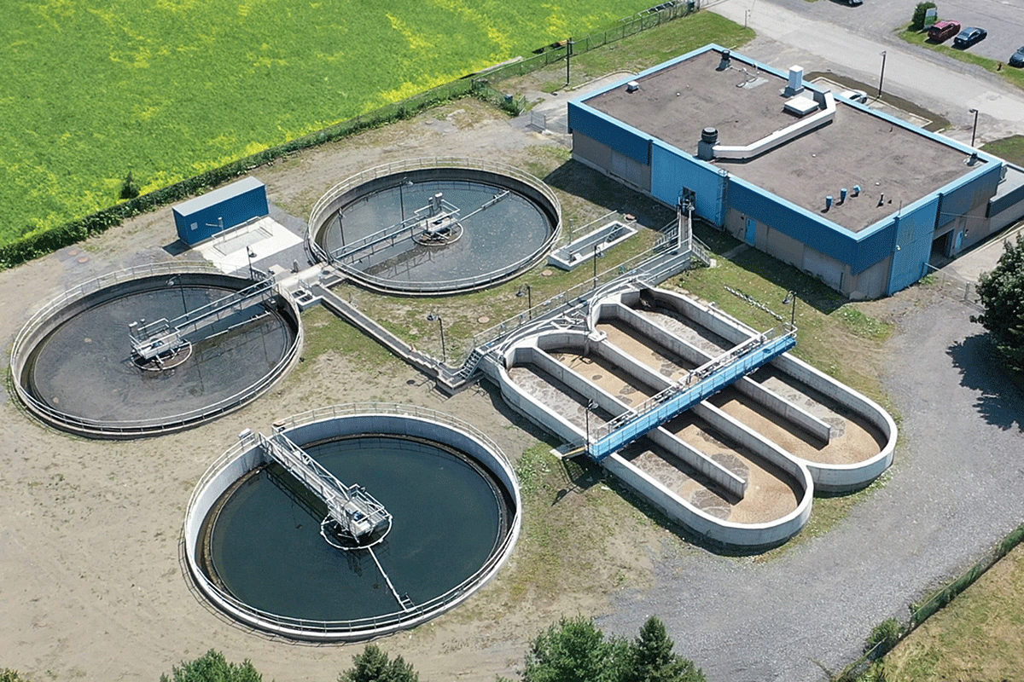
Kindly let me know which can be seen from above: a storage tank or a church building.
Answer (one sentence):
The one in the frame is a storage tank.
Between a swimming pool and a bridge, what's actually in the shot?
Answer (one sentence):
This aerial view contains a bridge.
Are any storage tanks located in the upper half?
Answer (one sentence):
Yes, a storage tank shows up in the upper half.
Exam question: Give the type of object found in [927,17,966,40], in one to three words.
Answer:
car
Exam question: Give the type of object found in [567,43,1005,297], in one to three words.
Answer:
building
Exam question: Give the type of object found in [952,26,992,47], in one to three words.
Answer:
car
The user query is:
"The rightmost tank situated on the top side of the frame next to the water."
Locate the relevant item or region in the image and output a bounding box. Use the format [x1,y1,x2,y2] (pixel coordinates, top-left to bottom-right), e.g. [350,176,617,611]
[307,157,566,302]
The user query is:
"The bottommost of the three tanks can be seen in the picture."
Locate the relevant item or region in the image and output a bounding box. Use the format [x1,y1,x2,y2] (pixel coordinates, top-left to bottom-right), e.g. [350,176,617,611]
[183,402,529,645]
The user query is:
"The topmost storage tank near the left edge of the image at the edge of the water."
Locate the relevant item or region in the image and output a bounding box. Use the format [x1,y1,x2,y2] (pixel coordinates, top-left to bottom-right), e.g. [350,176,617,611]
[10,261,309,444]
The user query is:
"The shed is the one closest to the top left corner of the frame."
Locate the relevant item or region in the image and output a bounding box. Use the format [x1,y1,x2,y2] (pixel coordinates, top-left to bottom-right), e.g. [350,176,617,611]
[172,175,269,245]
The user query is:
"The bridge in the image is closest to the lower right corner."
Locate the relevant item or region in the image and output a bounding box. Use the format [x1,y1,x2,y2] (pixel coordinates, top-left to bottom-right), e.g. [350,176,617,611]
[582,325,802,461]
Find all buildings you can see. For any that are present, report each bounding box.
[567,43,1005,297]
[172,175,269,245]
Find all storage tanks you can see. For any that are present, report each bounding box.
[307,157,566,302]
[183,402,529,645]
[10,261,309,444]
